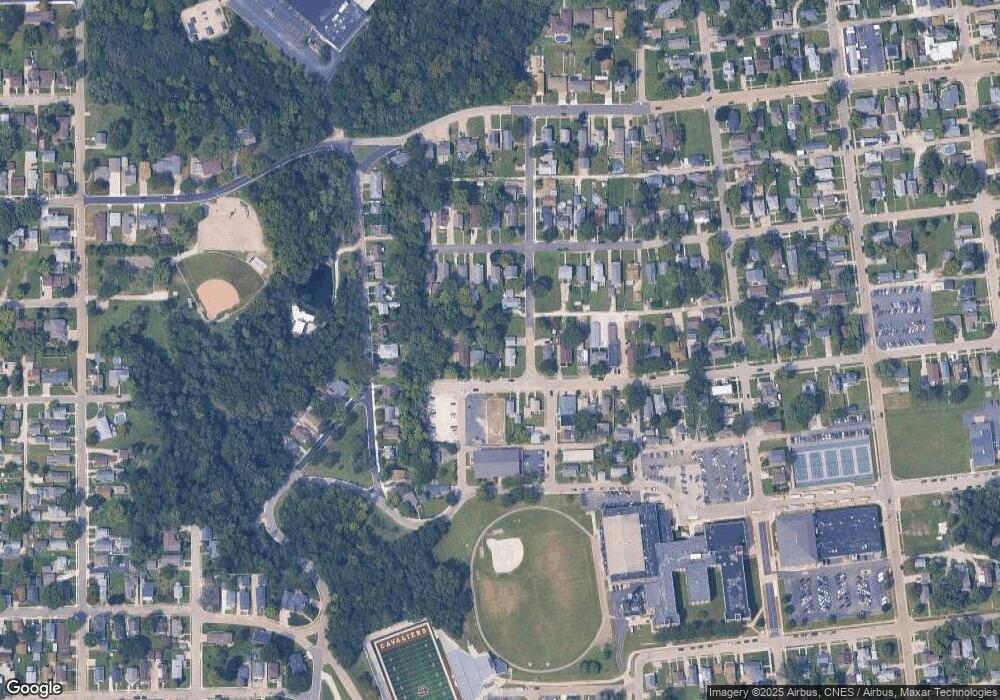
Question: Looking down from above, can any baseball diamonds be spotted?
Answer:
Yes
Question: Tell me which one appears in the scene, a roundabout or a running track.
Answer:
running track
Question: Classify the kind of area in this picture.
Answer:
residential area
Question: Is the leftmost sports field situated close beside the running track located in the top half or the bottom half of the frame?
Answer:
bottom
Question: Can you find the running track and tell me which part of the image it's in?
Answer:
bottom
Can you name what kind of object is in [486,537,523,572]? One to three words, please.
baseball field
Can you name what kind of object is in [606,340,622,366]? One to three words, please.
house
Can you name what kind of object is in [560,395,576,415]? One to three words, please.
house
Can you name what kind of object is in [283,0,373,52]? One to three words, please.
building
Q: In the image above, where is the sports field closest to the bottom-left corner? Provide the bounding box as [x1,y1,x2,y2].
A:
[370,619,460,700]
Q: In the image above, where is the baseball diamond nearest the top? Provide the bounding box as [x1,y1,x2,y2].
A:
[177,252,265,320]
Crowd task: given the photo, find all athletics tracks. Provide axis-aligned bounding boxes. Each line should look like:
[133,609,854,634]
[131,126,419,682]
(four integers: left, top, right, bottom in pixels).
[471,506,604,672]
